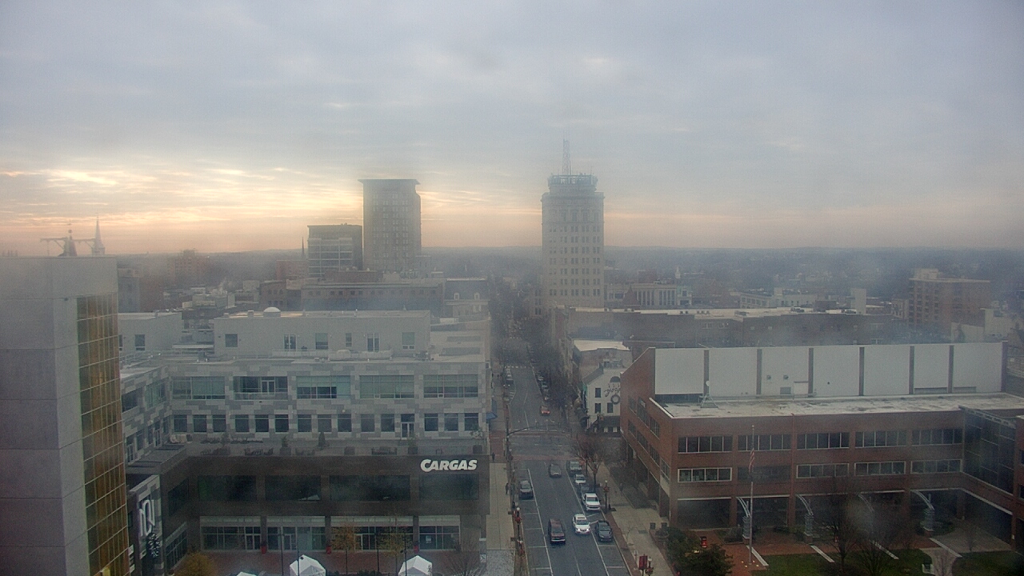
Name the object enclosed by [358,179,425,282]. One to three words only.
building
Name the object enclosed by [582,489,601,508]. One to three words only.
vehicle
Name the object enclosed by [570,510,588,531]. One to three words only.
car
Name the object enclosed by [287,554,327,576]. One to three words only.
tent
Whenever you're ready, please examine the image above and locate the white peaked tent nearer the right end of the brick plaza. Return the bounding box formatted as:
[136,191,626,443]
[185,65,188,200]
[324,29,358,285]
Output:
[397,553,435,576]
